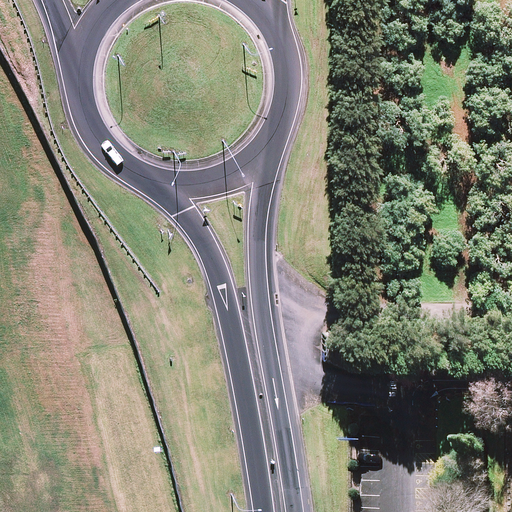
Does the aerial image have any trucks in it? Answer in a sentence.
No, I can see no truck in this picture.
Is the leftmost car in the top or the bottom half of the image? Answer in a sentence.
The leftmost car sits in the top half of the picture.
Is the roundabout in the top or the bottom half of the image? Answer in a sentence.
The top half of the photo is where the roundabout is.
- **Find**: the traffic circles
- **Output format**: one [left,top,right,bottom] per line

[66,0,301,196]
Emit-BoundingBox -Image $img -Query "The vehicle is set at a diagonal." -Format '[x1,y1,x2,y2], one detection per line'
[101,140,124,166]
